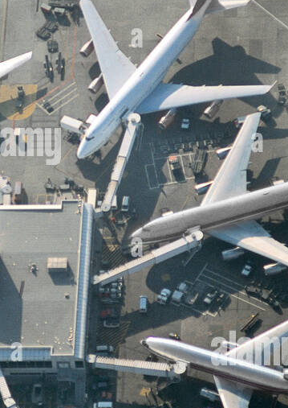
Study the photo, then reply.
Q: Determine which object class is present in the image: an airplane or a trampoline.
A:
airplane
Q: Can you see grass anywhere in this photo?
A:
No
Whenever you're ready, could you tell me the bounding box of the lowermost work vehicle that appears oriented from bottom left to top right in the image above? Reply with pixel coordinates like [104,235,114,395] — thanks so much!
[241,313,260,333]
